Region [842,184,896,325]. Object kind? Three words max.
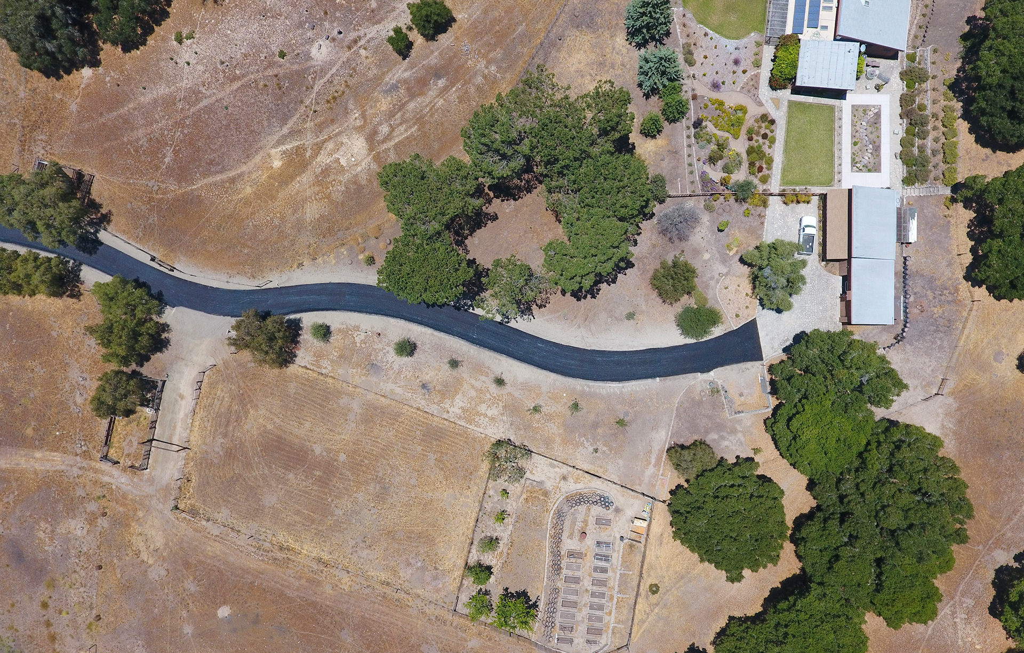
building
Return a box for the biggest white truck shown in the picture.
[797,215,819,256]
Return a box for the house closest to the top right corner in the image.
[835,0,912,57]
